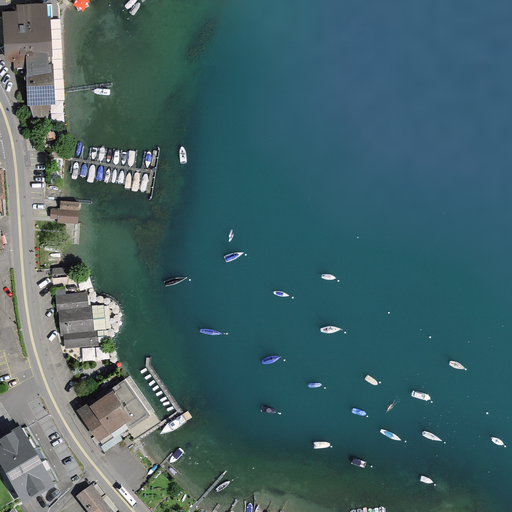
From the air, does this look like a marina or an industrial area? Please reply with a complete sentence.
What you see here is a marina.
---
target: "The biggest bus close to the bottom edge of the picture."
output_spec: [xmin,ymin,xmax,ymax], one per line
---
[118,486,138,506]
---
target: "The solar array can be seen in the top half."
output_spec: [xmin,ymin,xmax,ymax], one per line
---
[26,86,54,104]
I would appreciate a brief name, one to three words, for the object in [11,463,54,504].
house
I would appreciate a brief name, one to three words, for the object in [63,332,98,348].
building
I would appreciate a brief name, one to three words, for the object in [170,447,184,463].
boat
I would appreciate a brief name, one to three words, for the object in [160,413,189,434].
boat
